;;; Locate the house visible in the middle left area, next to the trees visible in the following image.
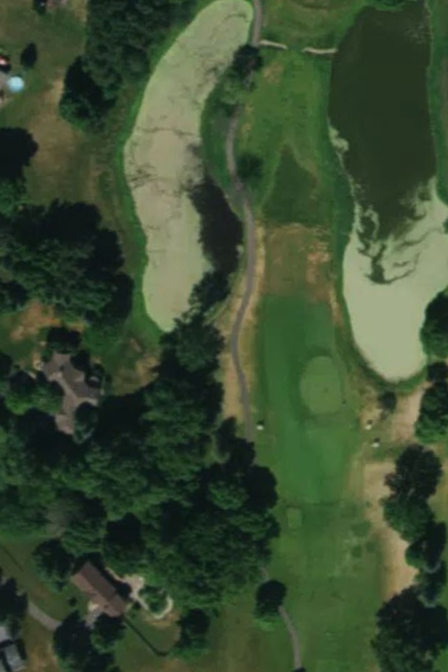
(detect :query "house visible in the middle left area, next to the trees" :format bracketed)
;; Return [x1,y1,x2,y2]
[39,356,102,435]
